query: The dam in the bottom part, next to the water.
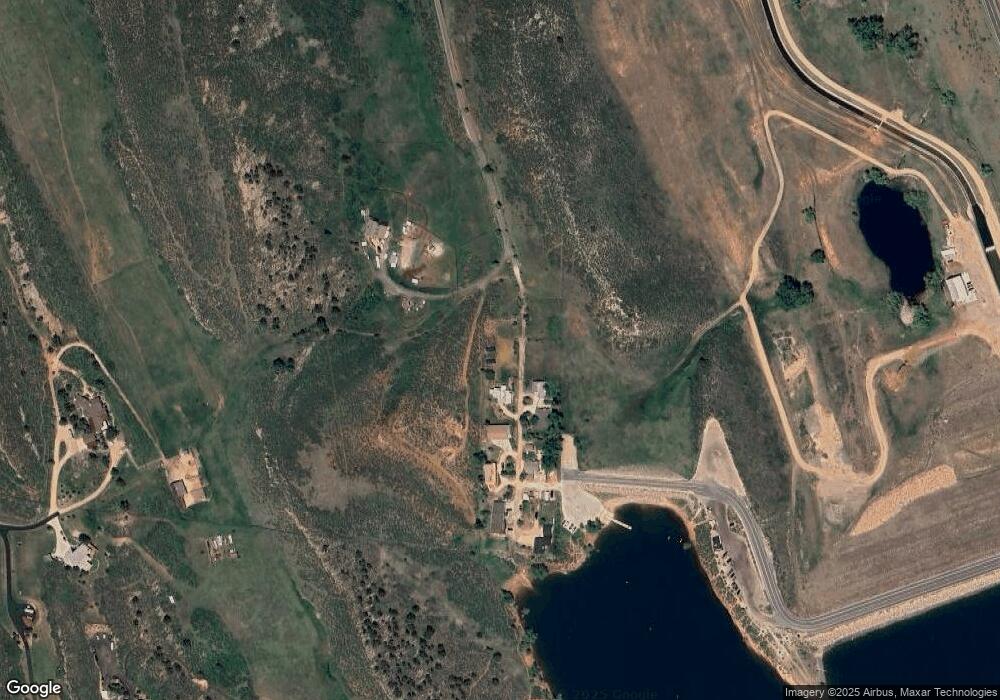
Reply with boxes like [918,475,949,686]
[777,465,1000,664]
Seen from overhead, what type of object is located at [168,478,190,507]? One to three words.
barn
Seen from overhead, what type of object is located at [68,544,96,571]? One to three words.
house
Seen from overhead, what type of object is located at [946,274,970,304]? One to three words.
building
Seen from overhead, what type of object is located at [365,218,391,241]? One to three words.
house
